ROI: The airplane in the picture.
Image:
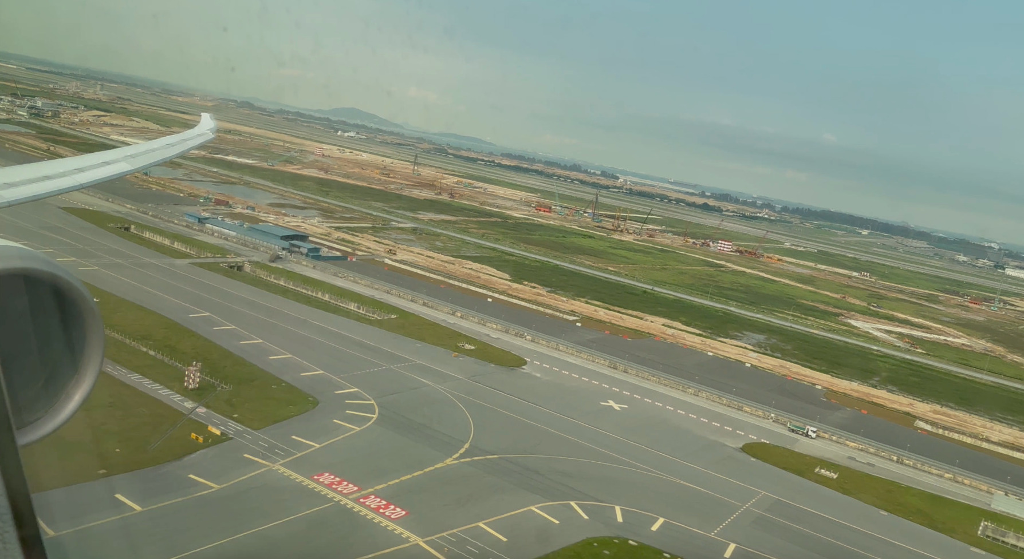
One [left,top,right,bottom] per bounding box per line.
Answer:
[0,113,216,559]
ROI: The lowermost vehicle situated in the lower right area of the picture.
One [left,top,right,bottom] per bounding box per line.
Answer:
[789,423,819,441]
